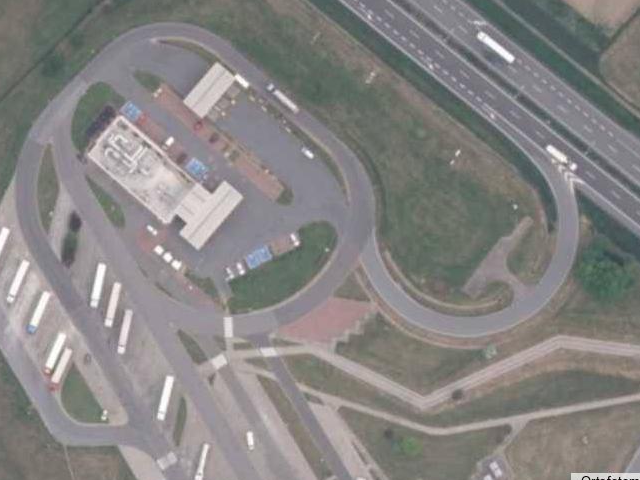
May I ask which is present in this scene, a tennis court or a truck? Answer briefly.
truck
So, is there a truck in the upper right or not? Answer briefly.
Yes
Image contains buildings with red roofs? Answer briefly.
No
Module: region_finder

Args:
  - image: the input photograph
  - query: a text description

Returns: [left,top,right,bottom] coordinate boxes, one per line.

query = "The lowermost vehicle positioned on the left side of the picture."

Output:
[195,443,210,480]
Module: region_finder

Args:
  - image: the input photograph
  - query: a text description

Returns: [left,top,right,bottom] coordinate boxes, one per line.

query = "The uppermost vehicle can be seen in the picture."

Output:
[476,31,516,64]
